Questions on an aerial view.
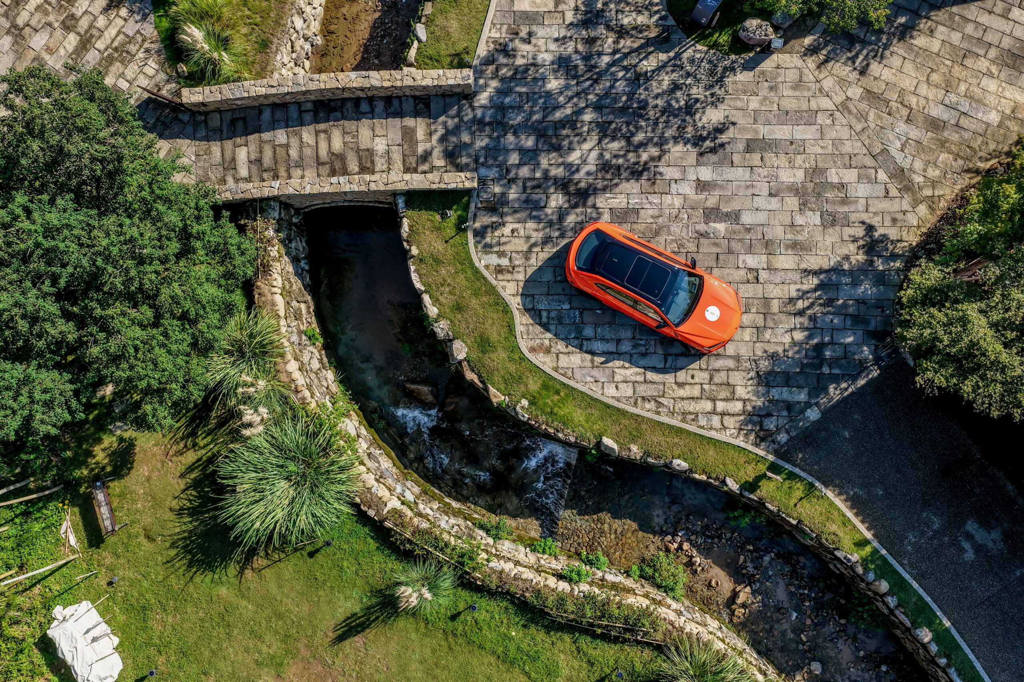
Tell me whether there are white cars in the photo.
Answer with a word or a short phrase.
No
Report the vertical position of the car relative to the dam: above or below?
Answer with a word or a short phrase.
above it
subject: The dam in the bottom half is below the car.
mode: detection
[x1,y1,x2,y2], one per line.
[543,451,581,542]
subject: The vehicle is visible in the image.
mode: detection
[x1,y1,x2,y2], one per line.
[568,221,740,350]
